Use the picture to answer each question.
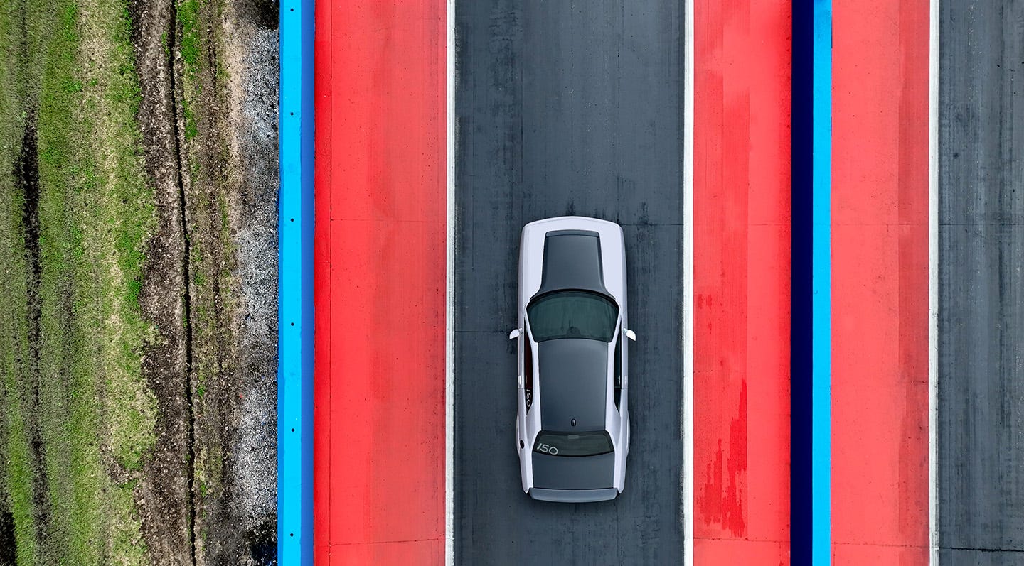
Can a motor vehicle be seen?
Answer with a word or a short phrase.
Yes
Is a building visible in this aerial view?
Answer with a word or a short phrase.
No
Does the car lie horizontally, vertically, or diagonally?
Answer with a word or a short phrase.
vertically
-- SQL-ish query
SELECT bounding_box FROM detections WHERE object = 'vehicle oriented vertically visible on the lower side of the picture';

[509,216,638,503]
